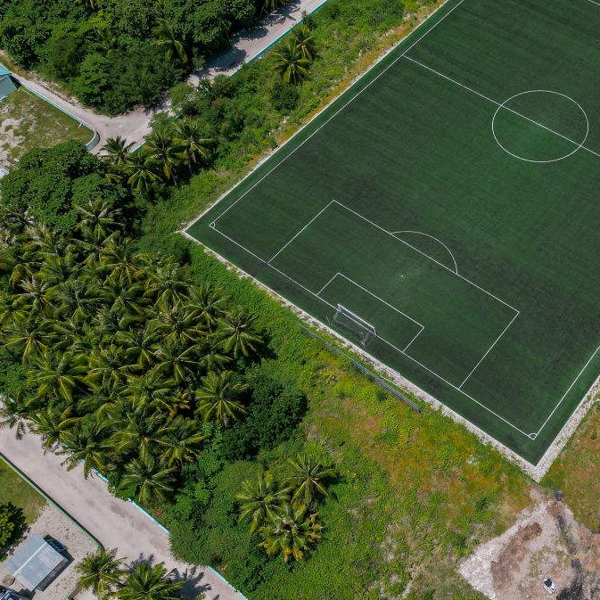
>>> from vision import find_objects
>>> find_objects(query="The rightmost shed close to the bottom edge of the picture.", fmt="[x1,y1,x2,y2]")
[4,531,71,591]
